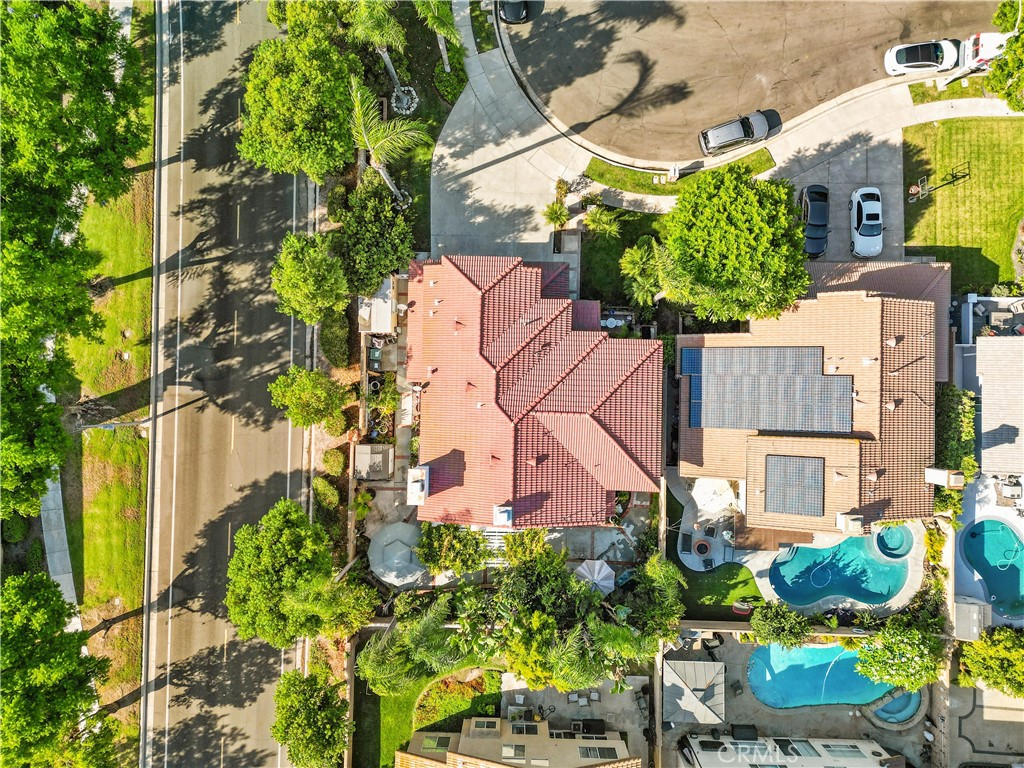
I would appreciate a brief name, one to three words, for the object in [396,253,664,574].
house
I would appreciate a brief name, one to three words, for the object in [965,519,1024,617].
swimming pool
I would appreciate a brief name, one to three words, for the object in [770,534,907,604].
swimming pool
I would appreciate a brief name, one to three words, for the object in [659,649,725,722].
building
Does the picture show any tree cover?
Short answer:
Yes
